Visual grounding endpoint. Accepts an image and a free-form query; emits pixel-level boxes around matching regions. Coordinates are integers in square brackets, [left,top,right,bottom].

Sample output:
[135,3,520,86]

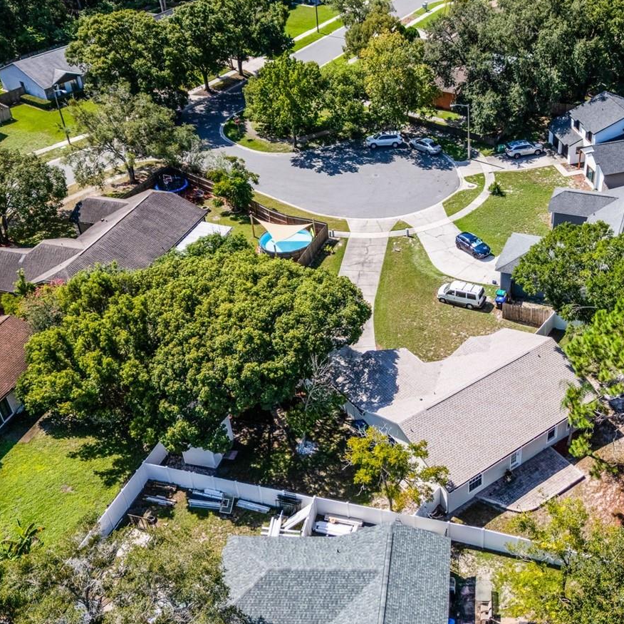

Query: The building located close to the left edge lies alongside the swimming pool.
[0,186,237,318]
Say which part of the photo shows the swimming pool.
center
